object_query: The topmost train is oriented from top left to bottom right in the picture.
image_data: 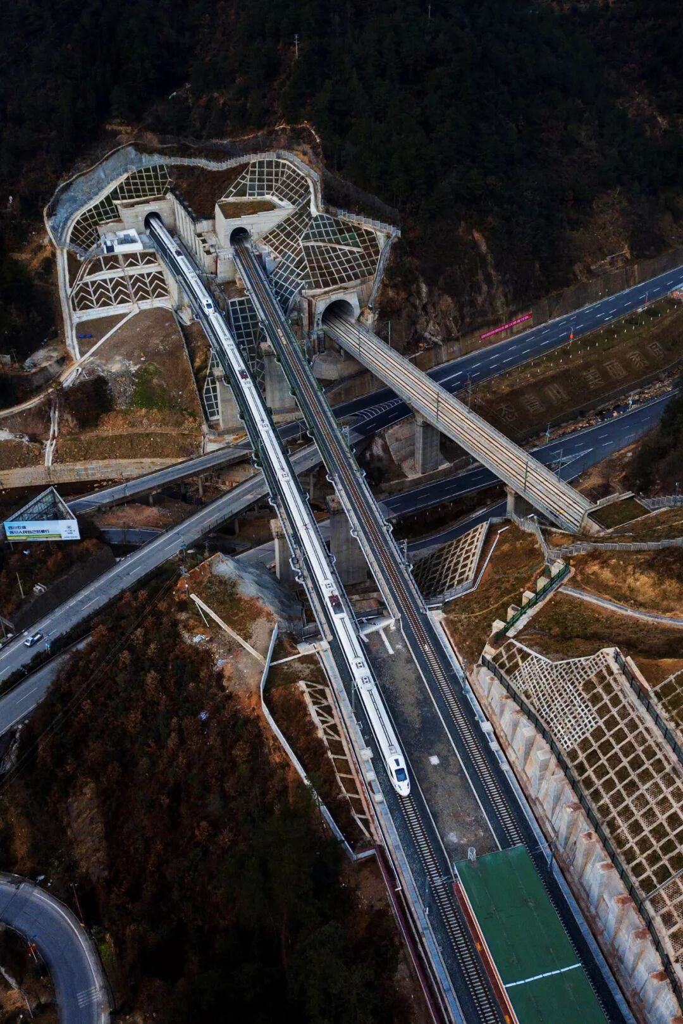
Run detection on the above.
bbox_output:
[152,219,213,313]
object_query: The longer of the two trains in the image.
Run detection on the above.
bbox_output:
[207,309,405,789]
